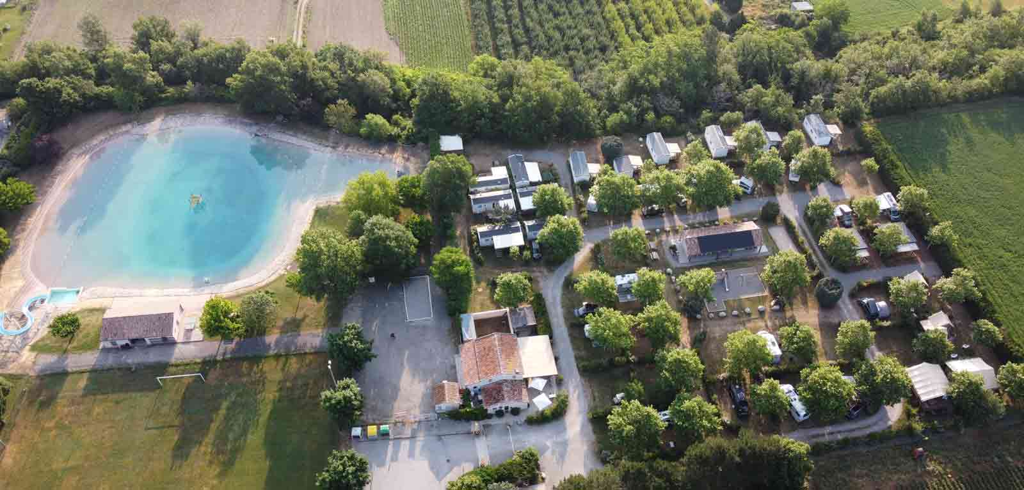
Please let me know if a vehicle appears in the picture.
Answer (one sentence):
Yes, there's a vehicle here.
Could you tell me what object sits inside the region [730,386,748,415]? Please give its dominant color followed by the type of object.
black car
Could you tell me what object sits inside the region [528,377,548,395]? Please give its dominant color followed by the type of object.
white umbrella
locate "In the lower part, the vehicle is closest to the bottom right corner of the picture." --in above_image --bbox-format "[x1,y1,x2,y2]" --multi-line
[911,445,931,462]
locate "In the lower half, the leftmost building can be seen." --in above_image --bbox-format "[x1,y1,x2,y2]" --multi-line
[92,299,187,355]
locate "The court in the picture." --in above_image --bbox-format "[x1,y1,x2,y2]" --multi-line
[705,267,767,312]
